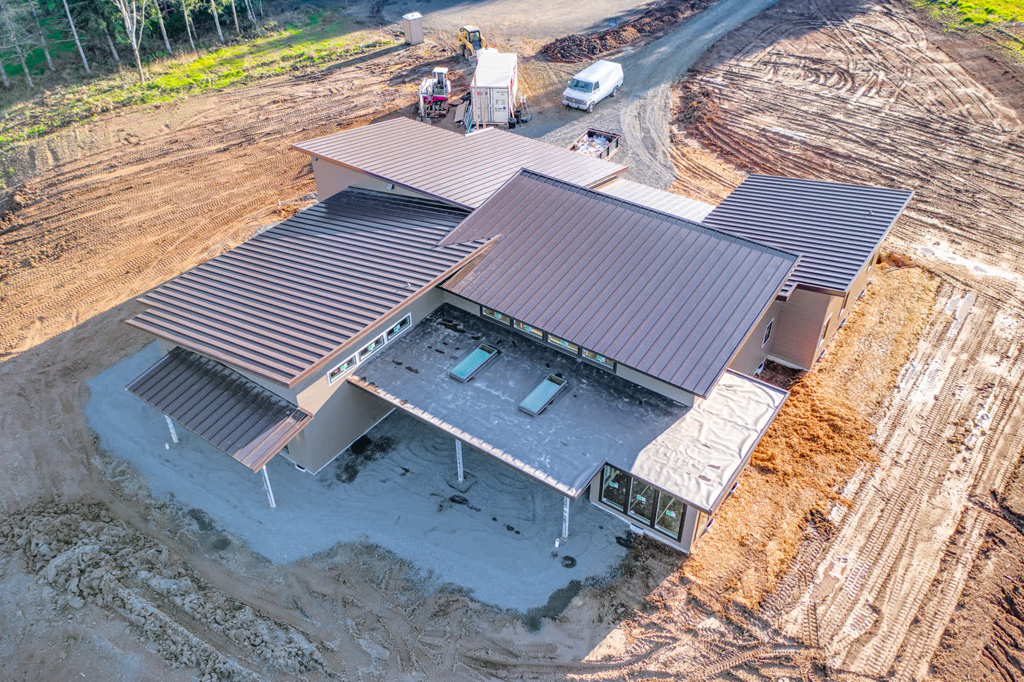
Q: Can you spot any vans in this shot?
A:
Yes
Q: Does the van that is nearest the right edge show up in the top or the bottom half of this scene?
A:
top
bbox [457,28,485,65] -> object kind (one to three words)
work vehicle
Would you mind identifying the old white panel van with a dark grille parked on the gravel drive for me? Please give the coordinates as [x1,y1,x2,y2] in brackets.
[561,62,621,110]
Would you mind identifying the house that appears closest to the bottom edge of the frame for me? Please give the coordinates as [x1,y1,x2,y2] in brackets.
[120,117,915,552]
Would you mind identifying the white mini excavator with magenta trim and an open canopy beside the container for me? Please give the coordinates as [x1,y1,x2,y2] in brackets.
[419,66,452,115]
